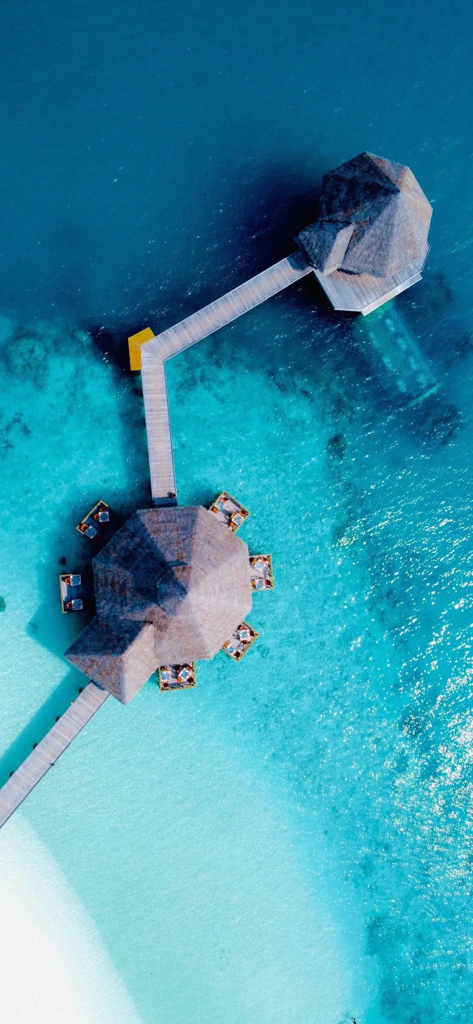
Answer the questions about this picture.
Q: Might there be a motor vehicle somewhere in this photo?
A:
No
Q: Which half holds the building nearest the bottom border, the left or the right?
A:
left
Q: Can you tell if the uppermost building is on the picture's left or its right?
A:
right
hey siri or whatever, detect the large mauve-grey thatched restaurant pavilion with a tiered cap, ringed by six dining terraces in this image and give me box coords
[64,504,253,707]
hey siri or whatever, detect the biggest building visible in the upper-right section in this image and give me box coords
[278,152,433,323]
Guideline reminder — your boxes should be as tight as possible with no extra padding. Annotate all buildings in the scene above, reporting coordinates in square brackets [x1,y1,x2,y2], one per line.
[64,504,253,707]
[278,152,433,323]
